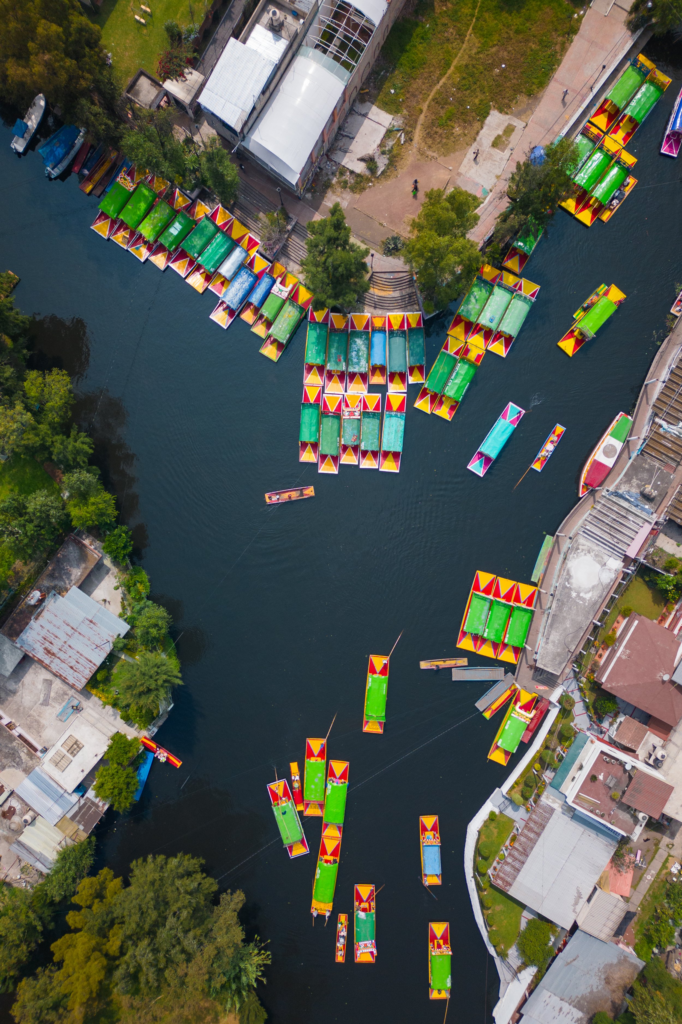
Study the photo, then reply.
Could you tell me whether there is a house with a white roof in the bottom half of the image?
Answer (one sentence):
Yes, you'll find a house with a white roof in the bottom half of the image.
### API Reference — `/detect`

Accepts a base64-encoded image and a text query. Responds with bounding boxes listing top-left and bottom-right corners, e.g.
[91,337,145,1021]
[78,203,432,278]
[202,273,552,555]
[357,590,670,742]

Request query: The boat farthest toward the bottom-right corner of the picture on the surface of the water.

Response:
[429,921,452,999]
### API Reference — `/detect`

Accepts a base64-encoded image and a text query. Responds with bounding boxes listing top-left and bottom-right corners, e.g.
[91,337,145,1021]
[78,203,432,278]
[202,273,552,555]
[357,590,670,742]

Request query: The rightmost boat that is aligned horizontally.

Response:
[452,667,504,681]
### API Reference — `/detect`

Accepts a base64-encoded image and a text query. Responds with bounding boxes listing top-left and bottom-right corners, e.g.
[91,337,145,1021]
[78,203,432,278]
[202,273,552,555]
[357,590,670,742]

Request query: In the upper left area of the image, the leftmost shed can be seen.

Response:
[124,69,169,115]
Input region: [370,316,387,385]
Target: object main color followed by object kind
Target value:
blue boat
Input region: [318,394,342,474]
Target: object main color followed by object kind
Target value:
green boat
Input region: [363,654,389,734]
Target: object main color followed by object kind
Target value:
green boat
